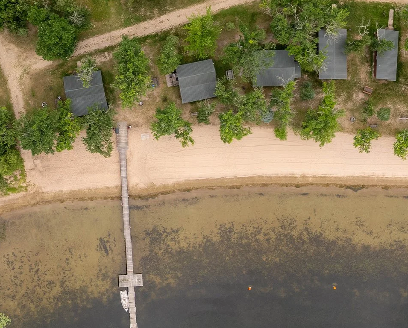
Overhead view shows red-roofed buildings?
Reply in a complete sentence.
No, there's no red-roofed building here.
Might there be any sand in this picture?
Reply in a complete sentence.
Yes, sand can be seen from above here.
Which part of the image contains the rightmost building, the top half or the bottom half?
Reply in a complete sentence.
Seen from above, the rightmost building lies in the top half of the view.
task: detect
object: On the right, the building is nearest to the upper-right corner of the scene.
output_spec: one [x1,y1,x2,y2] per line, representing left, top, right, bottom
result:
[374,28,399,80]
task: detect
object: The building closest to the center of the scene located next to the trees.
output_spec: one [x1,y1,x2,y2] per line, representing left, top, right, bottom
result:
[177,58,217,103]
